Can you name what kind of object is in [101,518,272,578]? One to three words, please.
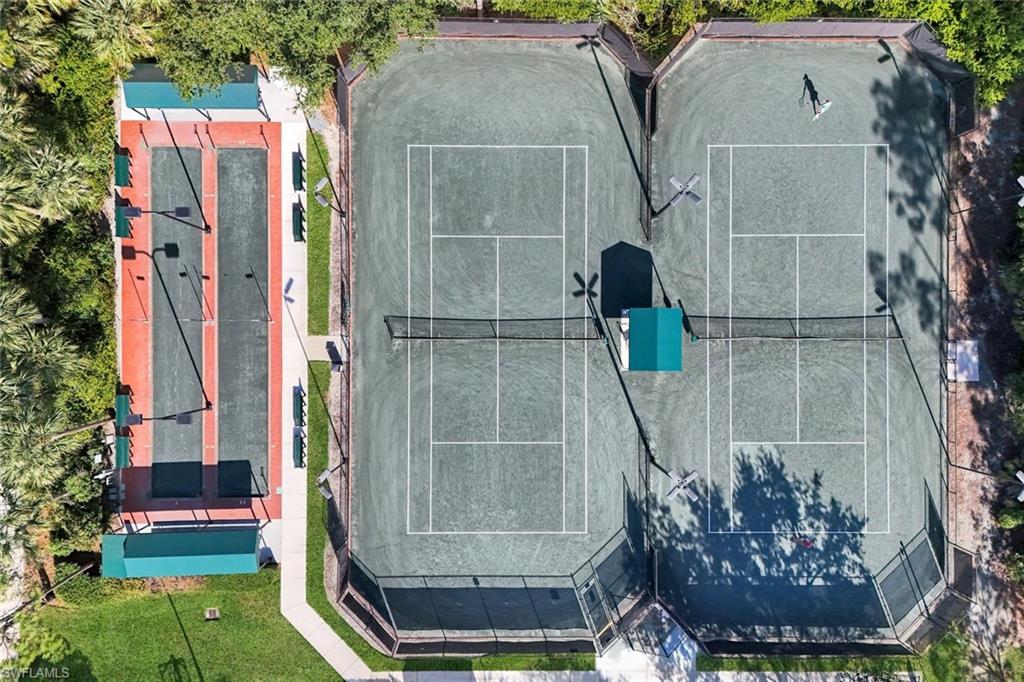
building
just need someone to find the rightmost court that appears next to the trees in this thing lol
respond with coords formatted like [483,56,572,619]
[649,39,948,636]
